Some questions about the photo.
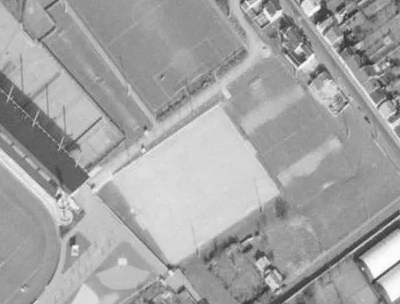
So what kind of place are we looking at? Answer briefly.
sports ground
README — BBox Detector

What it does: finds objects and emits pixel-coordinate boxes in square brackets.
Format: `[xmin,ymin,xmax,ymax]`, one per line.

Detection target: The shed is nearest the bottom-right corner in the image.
[373,267,400,304]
